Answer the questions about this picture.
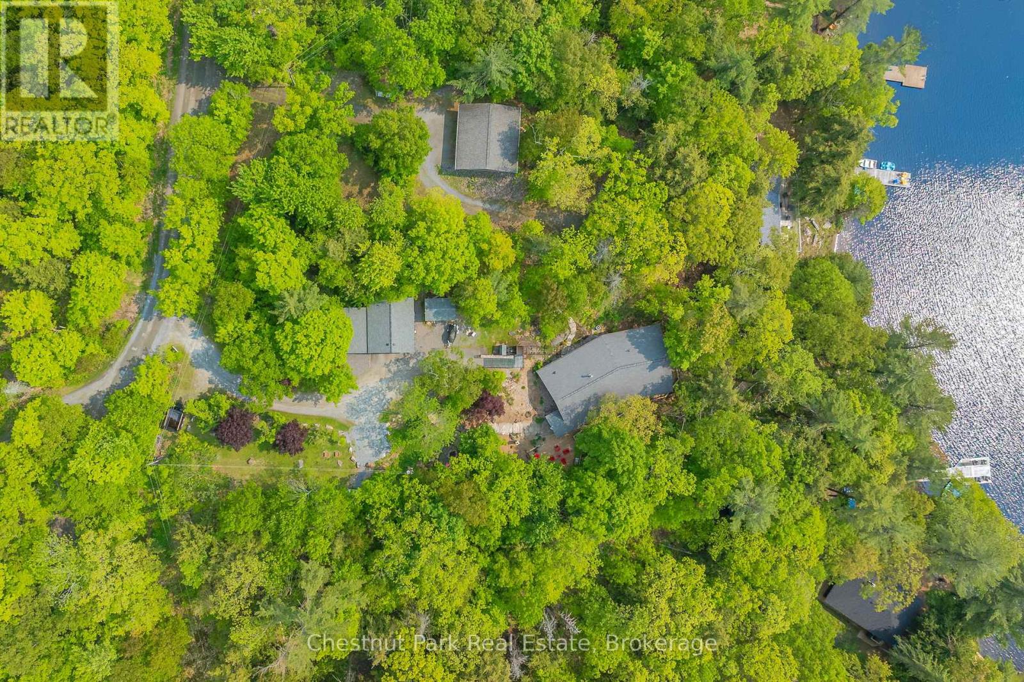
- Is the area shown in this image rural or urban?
rural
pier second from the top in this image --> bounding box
[848,165,912,188]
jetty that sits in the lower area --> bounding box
[915,456,993,485]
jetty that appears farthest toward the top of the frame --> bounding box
[881,64,928,89]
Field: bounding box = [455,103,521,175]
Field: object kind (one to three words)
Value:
house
